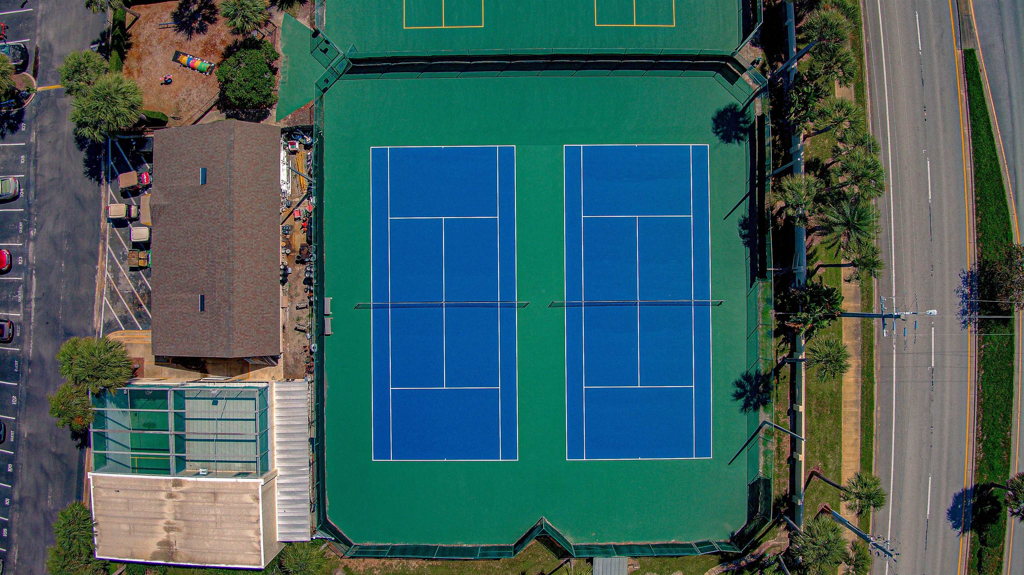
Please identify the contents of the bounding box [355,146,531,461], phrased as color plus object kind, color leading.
blue tennis court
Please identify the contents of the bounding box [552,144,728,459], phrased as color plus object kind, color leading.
blue tennis court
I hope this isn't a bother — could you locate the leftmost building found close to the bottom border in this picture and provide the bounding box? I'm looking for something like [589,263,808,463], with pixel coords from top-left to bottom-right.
[85,461,279,569]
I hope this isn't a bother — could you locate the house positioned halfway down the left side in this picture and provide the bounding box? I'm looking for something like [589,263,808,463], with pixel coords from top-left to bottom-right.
[149,120,283,358]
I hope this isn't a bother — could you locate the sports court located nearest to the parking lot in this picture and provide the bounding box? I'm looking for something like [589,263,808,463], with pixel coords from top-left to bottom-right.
[91,378,282,478]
